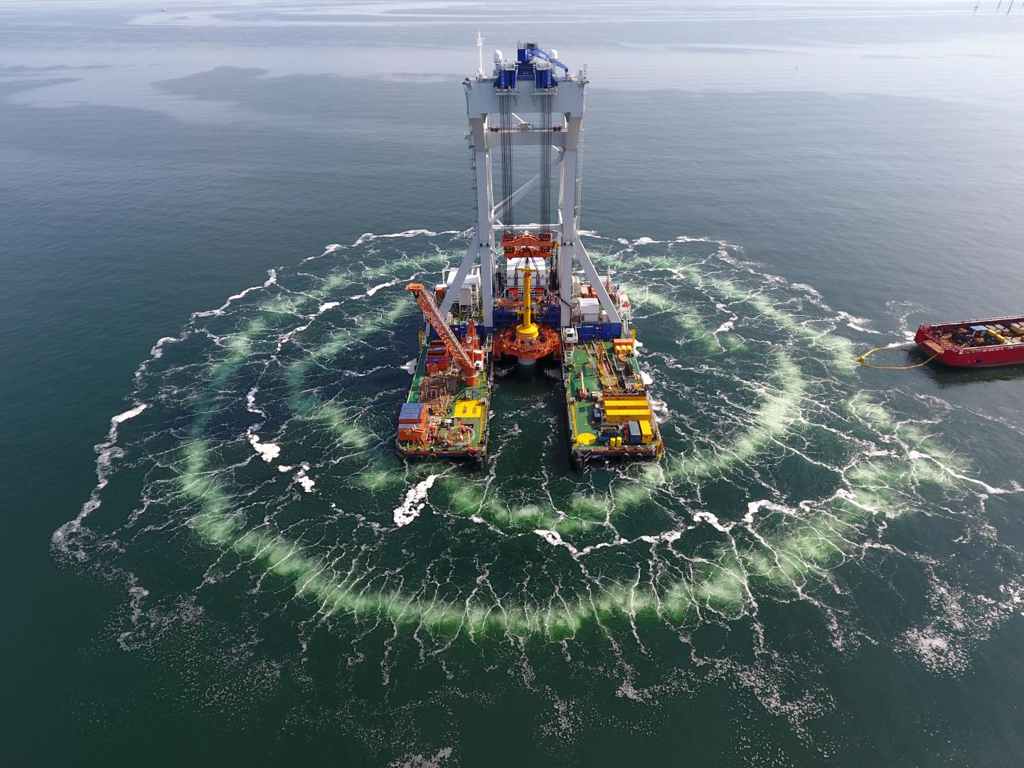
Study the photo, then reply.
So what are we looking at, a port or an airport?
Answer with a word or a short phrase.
port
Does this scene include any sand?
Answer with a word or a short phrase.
No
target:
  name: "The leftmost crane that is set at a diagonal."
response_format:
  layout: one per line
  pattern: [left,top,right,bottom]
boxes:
[398,285,486,386]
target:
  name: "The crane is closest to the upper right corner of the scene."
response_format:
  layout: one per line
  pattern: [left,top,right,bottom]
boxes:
[518,39,570,77]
